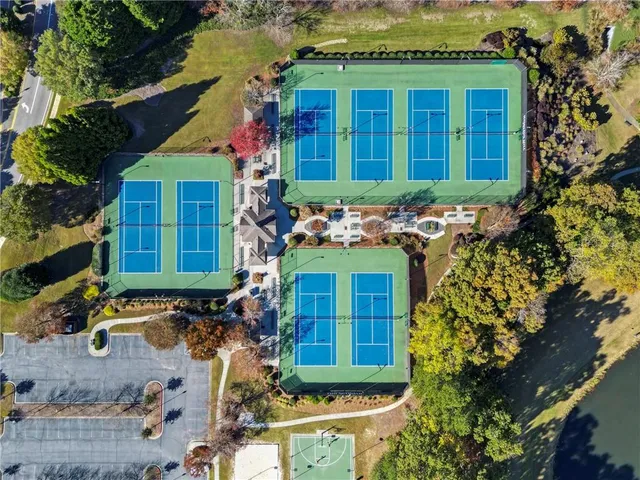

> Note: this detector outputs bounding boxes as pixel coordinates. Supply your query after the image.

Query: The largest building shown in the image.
[238,185,276,266]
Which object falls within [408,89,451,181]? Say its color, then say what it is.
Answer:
blue tennis court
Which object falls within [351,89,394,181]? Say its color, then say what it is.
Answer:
blue tennis court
